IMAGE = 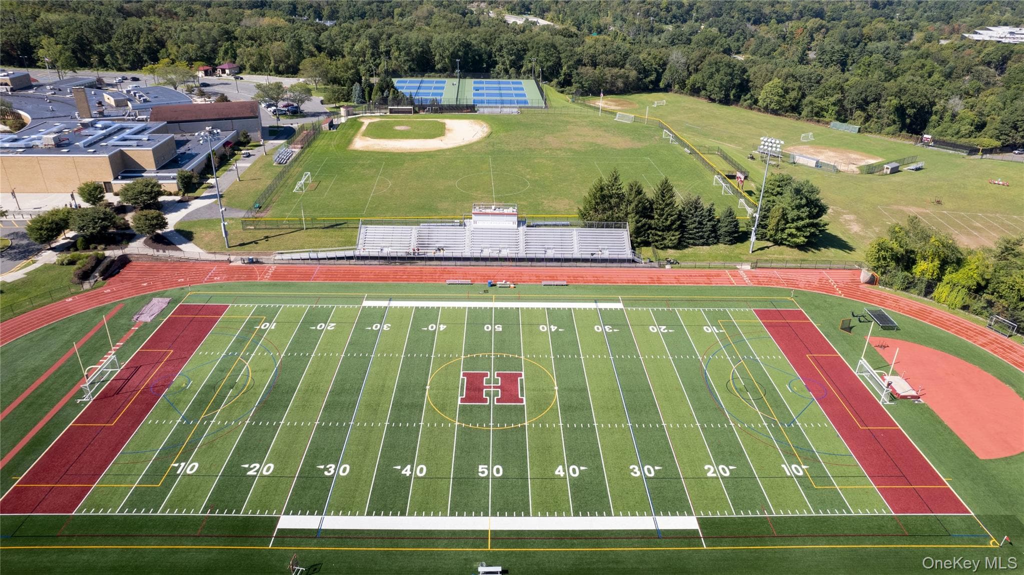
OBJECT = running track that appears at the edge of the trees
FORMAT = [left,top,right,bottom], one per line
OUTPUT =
[0,262,1024,575]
